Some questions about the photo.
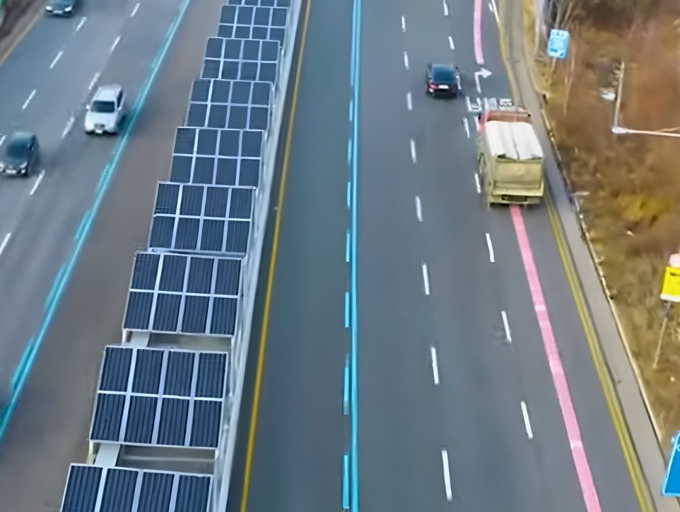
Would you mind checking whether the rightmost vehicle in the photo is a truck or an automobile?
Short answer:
truck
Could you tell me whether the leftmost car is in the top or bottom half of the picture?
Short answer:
top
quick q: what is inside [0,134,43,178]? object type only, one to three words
car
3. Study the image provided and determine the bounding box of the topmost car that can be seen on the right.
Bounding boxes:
[423,65,458,97]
